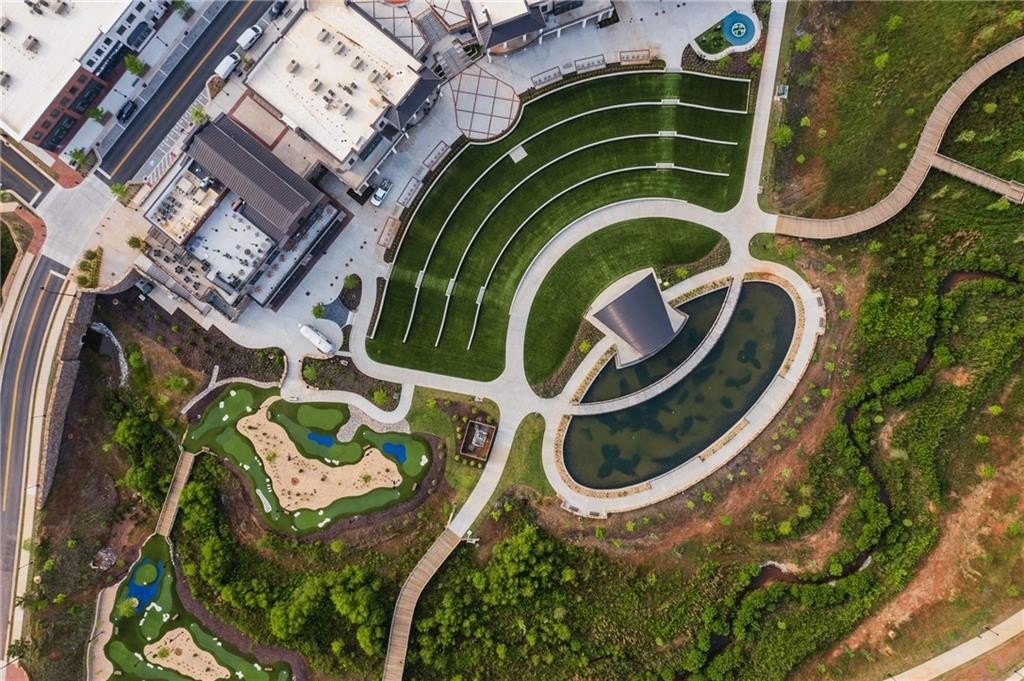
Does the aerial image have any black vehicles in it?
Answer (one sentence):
Yes, looking at the shot, I can spot a black vehicle.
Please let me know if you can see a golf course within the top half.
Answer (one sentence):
No, there is no golf course within the top half.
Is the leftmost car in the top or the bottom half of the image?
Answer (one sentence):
It is in the top half that the leftmost car appears.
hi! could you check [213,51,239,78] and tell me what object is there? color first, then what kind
white car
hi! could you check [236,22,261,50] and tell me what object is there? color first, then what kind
white car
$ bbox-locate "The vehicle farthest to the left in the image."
[113,98,137,123]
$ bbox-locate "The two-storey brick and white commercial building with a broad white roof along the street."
[0,0,176,155]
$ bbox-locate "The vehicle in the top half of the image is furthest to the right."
[369,180,392,209]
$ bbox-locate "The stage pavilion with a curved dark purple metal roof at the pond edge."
[583,268,690,370]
